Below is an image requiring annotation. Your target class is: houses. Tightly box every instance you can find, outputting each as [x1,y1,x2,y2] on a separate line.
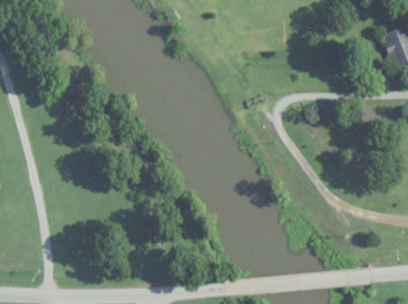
[384,27,408,65]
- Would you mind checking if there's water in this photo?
Yes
